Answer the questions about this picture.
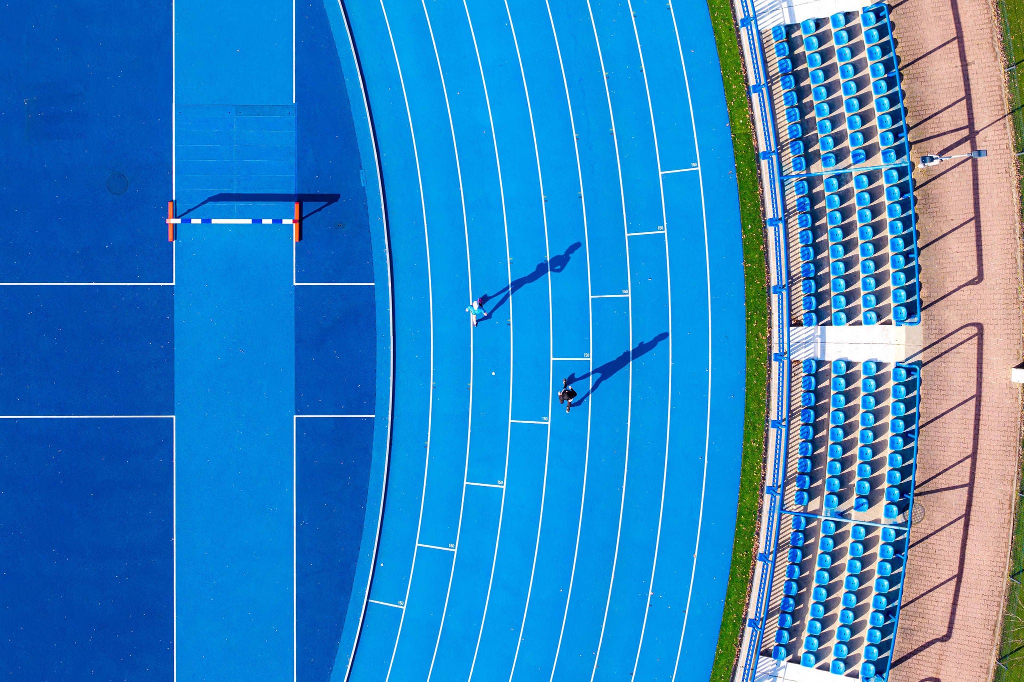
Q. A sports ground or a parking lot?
sports ground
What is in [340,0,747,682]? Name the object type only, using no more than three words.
running track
